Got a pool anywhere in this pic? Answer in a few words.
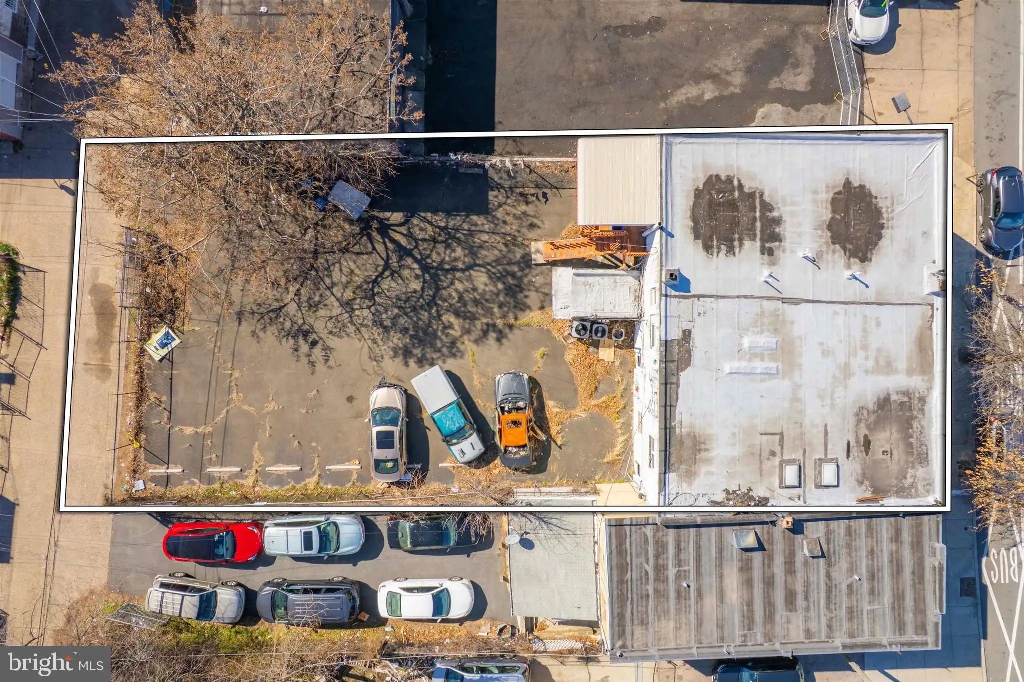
No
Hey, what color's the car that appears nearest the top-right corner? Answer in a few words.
white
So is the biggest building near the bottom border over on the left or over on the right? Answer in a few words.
right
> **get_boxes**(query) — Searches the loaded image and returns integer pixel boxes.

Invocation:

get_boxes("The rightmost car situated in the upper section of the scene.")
[971,167,1024,257]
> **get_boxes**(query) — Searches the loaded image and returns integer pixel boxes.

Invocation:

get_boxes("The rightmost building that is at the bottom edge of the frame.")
[591,490,949,663]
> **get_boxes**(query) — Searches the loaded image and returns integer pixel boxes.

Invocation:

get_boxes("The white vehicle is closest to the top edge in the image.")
[844,0,895,50]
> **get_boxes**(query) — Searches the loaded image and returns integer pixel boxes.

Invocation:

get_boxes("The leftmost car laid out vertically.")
[365,374,410,482]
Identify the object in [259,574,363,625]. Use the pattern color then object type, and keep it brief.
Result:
gray car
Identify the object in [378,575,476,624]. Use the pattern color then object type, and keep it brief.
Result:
white car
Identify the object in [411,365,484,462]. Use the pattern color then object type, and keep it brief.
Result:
white truck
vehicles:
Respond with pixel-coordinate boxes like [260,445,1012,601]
[365,374,410,482]
[411,365,484,462]
[971,167,1024,257]
[259,574,363,625]
[705,657,809,682]
[163,517,265,566]
[142,569,252,625]
[492,370,547,466]
[263,510,368,559]
[378,575,476,624]
[844,0,895,50]
[389,510,486,556]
